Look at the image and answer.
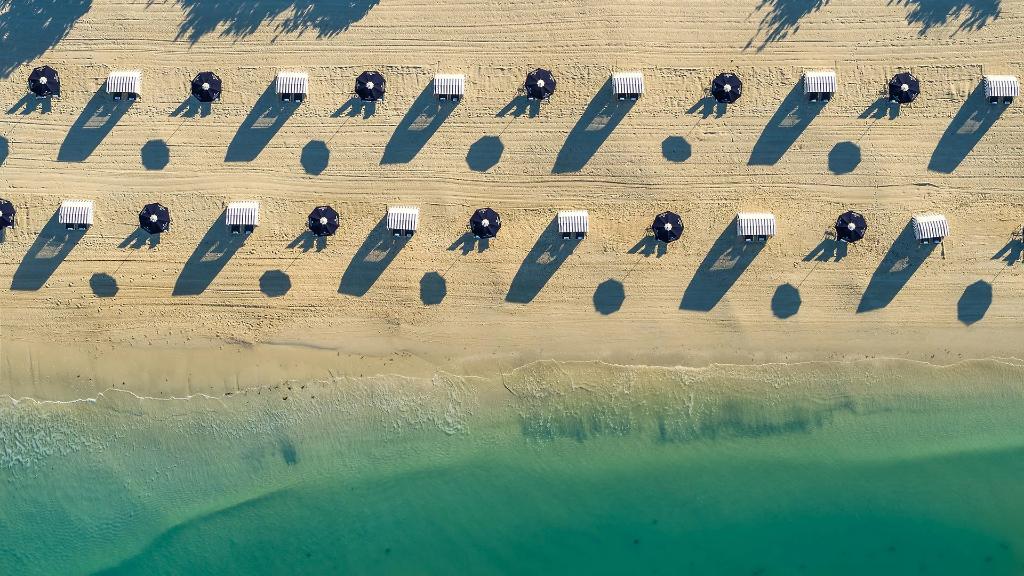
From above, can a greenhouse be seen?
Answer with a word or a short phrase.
No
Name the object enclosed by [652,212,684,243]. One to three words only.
umbrella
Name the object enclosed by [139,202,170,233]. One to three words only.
umbrella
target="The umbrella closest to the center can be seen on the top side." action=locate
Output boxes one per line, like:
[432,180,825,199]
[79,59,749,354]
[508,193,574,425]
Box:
[470,208,501,239]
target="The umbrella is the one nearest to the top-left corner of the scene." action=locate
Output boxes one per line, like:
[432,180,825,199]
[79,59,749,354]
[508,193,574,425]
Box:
[28,65,60,96]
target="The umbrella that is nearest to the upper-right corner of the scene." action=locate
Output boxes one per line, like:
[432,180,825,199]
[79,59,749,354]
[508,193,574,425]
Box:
[889,73,919,103]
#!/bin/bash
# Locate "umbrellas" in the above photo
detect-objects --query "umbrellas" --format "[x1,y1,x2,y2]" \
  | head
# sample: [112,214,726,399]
[652,212,684,243]
[712,73,742,103]
[28,65,60,96]
[0,198,17,229]
[192,72,221,102]
[356,72,385,101]
[525,69,556,100]
[835,211,867,243]
[139,202,170,233]
[889,73,919,103]
[470,208,501,239]
[309,206,339,236]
